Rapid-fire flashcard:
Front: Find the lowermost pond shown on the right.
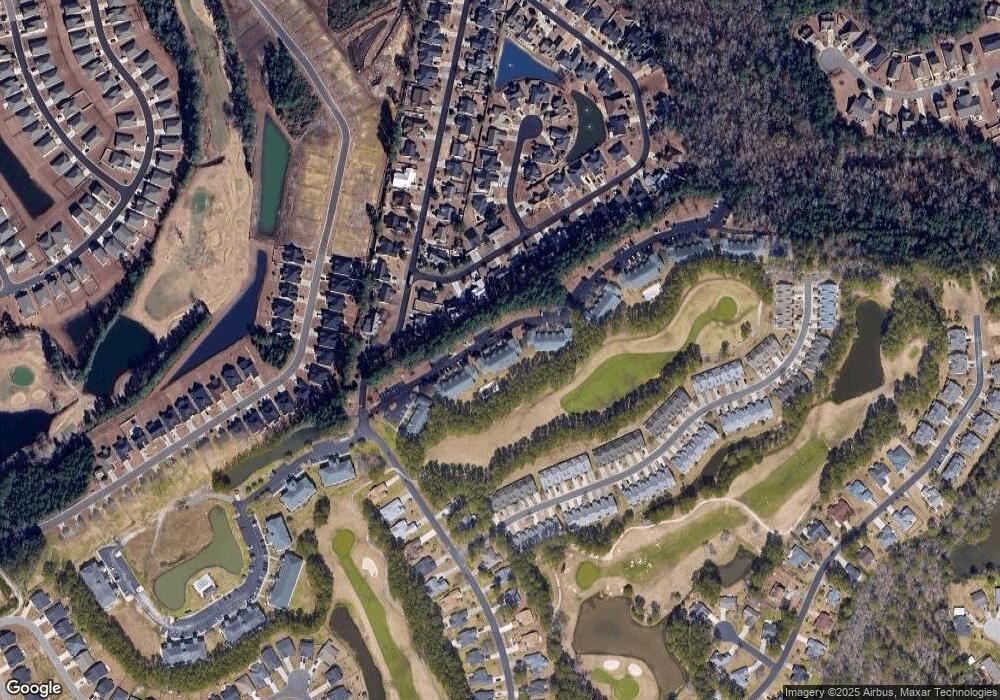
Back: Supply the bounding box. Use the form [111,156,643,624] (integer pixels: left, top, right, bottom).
[574,597,688,700]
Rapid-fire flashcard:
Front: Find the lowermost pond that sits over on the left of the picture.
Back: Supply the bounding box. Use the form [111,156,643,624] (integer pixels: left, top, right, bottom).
[331,605,384,700]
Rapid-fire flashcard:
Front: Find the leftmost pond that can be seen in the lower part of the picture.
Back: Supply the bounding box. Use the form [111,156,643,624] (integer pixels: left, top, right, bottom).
[0,411,53,464]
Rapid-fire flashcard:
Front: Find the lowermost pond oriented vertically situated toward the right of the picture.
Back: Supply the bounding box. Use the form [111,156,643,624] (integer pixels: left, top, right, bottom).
[832,301,884,402]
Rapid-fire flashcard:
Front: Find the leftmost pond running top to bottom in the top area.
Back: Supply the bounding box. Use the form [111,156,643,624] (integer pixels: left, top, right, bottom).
[259,112,288,233]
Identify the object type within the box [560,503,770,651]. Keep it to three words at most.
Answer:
golf course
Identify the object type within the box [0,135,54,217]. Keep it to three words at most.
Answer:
pond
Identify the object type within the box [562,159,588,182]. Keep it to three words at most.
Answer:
house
